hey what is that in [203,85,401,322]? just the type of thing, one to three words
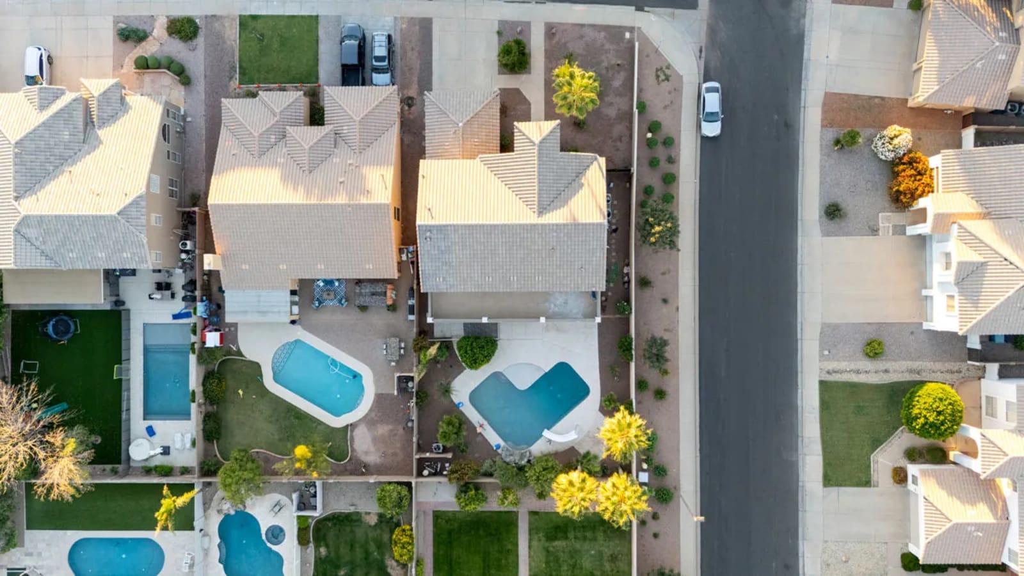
house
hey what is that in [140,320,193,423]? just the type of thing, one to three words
swimming pool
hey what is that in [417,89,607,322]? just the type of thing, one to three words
house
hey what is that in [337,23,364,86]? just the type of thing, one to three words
truck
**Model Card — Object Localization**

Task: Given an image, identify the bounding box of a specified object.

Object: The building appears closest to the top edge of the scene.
[909,0,1024,110]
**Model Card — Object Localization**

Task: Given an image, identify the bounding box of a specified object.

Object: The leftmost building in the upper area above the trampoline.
[0,78,183,305]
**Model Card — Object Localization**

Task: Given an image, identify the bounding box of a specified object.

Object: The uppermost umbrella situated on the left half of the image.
[130,438,175,461]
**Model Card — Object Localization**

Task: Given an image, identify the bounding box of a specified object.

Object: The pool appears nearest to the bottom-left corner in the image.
[65,535,167,576]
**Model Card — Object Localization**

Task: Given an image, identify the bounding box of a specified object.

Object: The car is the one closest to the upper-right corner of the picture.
[701,80,727,136]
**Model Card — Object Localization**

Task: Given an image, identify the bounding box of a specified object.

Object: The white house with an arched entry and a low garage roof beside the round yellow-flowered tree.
[907,379,1024,576]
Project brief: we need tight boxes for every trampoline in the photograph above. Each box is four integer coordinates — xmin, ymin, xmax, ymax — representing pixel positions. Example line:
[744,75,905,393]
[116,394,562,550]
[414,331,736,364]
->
[36,312,79,342]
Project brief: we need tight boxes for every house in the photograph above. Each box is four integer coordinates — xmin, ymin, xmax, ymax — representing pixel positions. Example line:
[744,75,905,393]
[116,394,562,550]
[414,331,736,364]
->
[909,0,1024,110]
[203,85,401,322]
[0,78,183,305]
[907,379,1024,576]
[417,89,607,322]
[907,142,1024,348]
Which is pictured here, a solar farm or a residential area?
residential area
